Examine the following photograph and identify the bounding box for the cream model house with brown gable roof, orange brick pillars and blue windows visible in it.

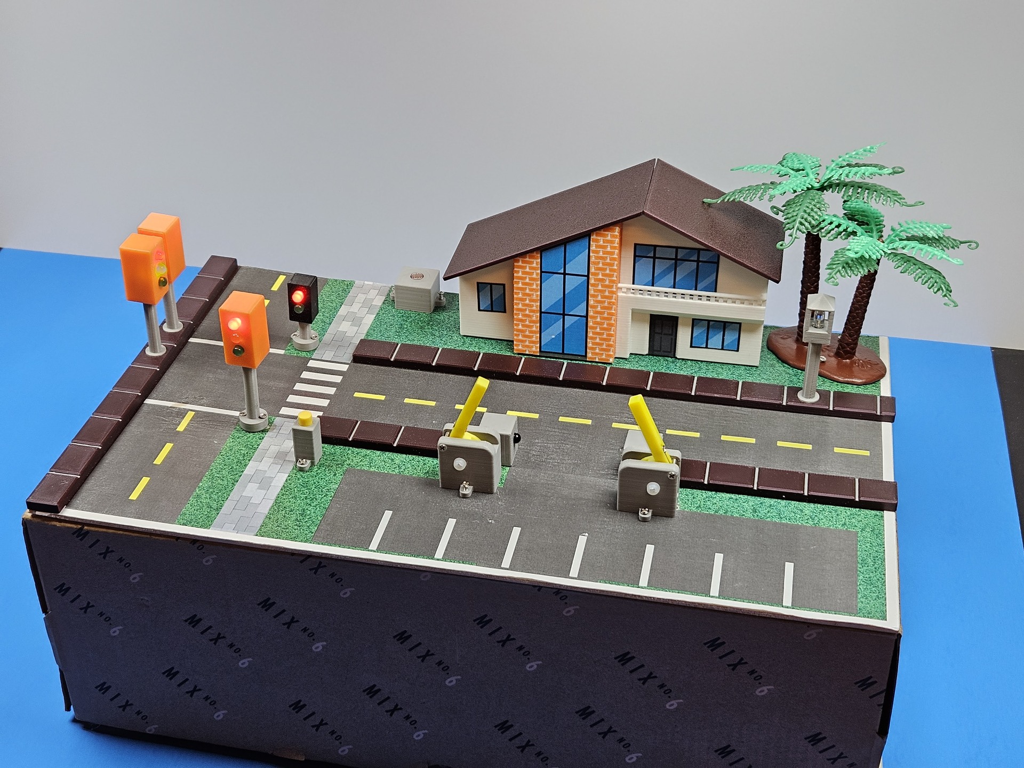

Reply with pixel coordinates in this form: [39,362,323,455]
[442,162,786,367]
